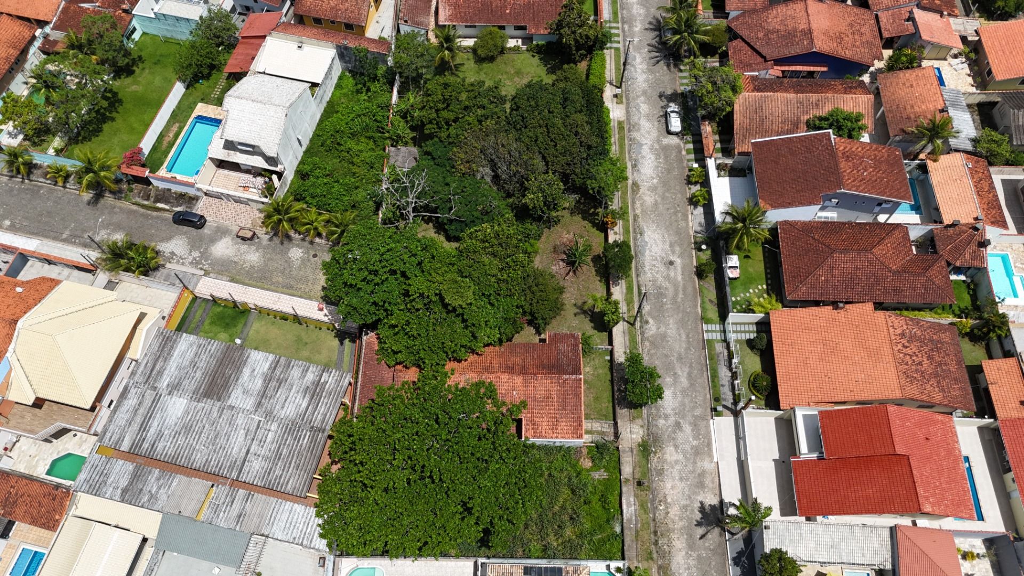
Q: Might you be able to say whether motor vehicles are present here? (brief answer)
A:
Yes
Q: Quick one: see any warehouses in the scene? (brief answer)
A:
Yes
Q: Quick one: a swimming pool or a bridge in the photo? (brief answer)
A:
swimming pool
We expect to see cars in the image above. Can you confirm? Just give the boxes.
[168,209,210,233]
[659,22,675,47]
[664,109,683,138]
[724,251,742,283]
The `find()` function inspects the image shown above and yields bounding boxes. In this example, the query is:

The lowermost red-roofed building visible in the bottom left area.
[0,472,82,532]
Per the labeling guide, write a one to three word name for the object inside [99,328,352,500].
warehouse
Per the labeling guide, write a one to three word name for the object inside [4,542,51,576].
swimming pool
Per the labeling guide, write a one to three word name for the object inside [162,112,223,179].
swimming pool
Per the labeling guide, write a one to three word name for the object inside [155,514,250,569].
house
